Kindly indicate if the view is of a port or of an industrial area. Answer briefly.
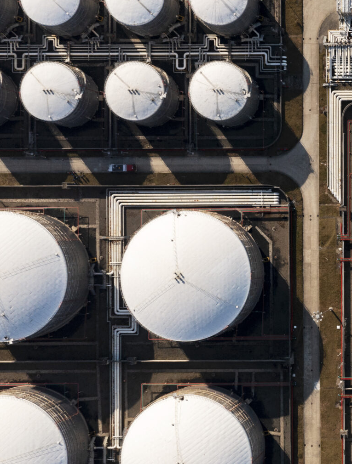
industrial area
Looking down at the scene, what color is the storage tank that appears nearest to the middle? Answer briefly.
white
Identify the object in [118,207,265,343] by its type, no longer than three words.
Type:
storage tank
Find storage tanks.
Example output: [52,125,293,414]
[188,60,261,129]
[0,208,91,346]
[18,0,101,37]
[188,0,260,37]
[102,60,181,129]
[104,0,181,37]
[118,207,265,343]
[120,387,266,464]
[18,60,100,129]
[0,386,91,464]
